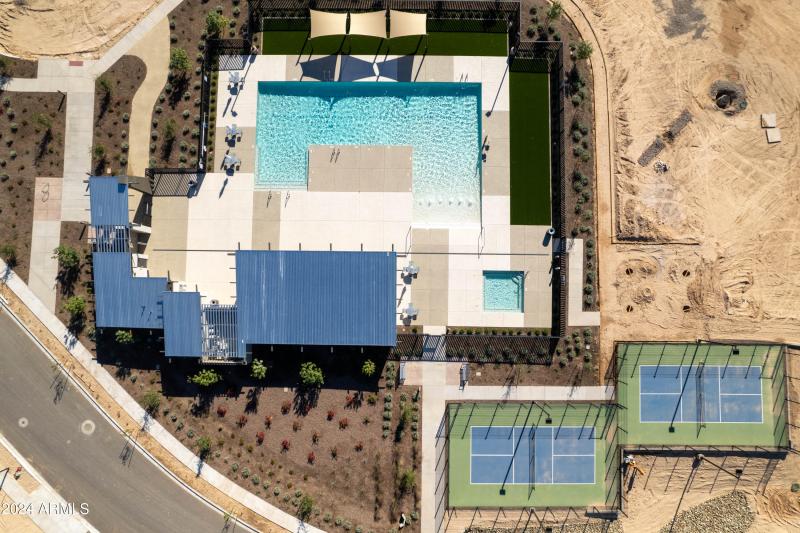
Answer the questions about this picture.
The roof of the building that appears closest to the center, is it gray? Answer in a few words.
No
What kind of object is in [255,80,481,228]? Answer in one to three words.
swimming pool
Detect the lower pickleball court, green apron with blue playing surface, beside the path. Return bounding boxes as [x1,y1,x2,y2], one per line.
[448,404,619,510]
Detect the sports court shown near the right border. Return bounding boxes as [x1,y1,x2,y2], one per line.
[616,342,788,448]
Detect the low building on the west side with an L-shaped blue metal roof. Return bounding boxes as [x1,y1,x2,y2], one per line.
[82,175,203,334]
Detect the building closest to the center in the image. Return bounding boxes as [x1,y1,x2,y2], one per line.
[229,242,404,357]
